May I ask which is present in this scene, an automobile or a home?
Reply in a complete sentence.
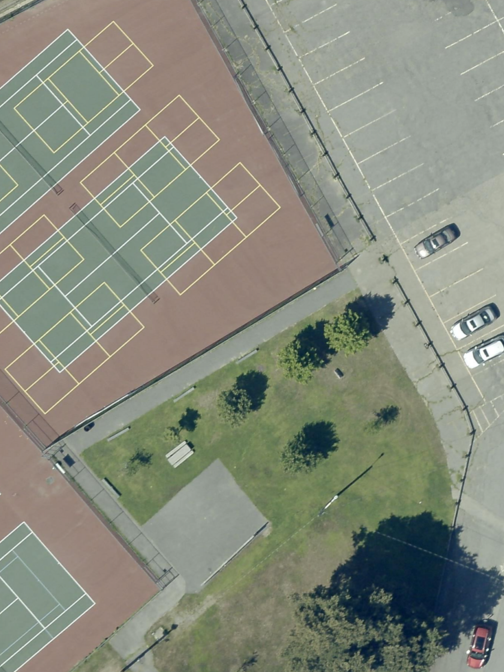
The image shows an automobile.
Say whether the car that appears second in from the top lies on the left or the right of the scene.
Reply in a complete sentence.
The car that appears second in from the top is on the right side of the image.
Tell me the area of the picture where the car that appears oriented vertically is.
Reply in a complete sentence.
The car that appears oriented vertically sits in the bottom right section of the image.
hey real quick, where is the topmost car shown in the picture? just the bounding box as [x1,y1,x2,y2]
[414,224,460,259]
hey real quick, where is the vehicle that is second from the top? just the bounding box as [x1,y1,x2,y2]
[452,304,497,338]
